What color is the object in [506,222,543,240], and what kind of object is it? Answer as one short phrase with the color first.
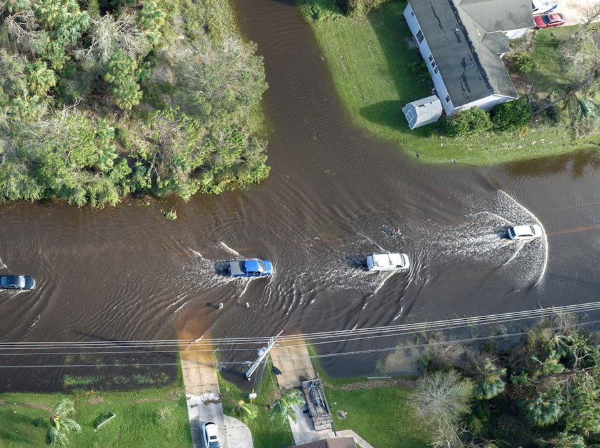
white car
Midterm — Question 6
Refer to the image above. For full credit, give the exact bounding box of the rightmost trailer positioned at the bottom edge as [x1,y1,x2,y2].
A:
[299,371,332,430]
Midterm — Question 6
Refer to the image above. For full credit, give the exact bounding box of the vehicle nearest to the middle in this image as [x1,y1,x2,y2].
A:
[227,257,273,275]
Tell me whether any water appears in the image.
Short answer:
Yes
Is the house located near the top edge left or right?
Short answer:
right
